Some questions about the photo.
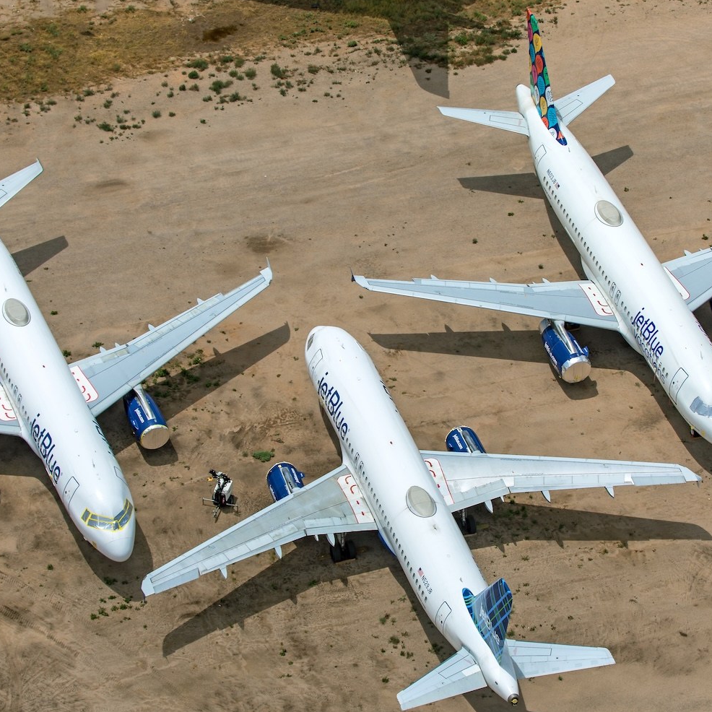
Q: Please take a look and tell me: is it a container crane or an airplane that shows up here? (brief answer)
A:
airplane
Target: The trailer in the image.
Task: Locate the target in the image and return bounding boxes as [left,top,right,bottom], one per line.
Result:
[202,469,238,516]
